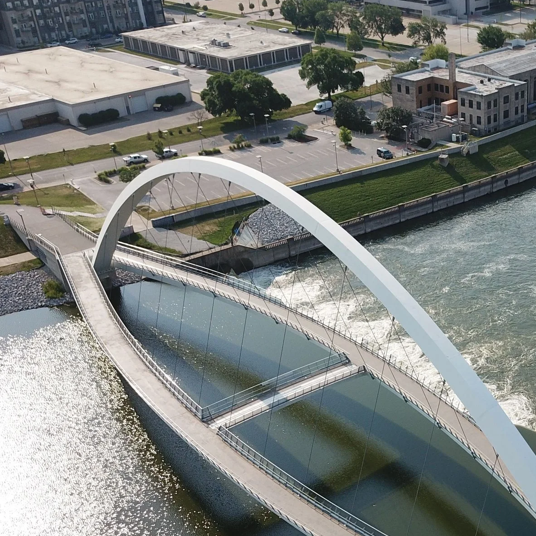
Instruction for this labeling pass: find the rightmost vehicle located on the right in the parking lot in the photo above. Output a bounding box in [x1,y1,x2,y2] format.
[377,146,392,158]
